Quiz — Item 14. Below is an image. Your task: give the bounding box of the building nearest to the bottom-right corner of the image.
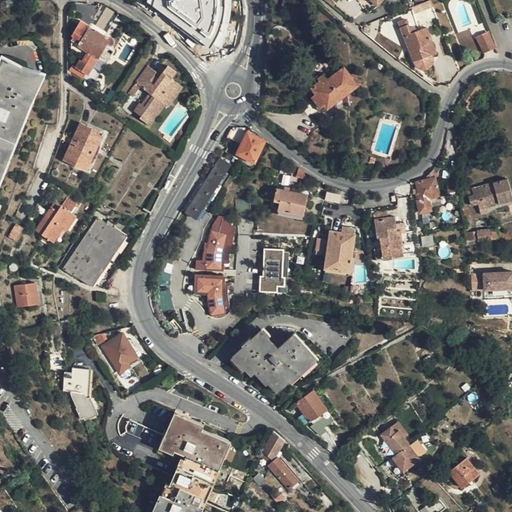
[451,458,480,490]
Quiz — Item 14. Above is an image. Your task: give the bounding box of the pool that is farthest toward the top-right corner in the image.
[450,0,486,34]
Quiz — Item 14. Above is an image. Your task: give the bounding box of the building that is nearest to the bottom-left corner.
[63,368,99,420]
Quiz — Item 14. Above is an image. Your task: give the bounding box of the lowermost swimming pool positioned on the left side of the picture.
[158,102,186,143]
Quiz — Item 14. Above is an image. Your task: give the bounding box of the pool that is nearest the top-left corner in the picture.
[113,34,138,66]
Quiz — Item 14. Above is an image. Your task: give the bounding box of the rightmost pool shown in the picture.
[484,298,512,316]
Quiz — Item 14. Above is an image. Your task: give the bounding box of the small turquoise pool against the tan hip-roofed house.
[351,264,368,284]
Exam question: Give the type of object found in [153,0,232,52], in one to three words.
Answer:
building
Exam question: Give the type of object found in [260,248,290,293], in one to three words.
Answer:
building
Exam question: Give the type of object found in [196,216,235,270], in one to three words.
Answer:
house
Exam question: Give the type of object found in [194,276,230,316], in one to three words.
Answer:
house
